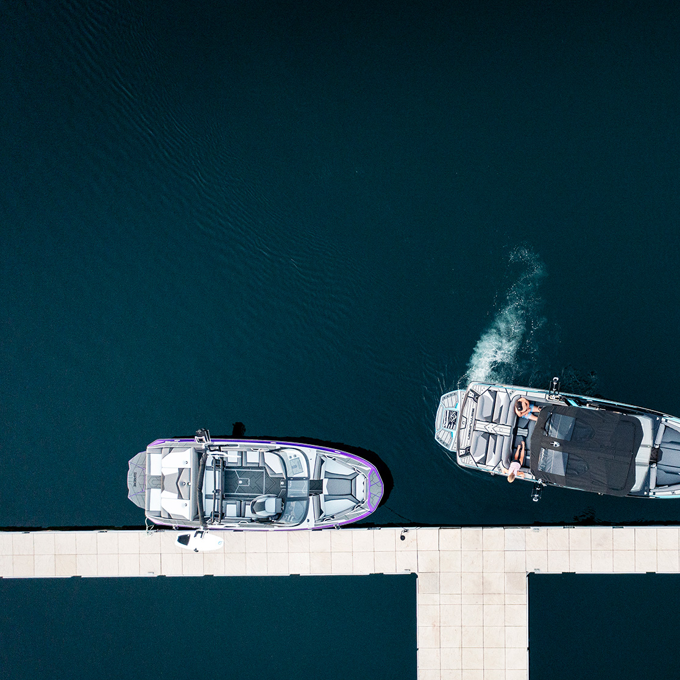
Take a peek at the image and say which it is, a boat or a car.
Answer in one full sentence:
Of the two, only a boat appears.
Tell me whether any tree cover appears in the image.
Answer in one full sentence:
No, the scene doesn't show any tree cover.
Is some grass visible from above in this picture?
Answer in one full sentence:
No, there's no grass in this view.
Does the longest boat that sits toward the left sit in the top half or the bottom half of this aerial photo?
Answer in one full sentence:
Seen from above, the longest boat that sits toward the left lies in the bottom half of the view.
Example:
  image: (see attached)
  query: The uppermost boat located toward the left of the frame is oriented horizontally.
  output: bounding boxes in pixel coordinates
[127,429,385,537]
